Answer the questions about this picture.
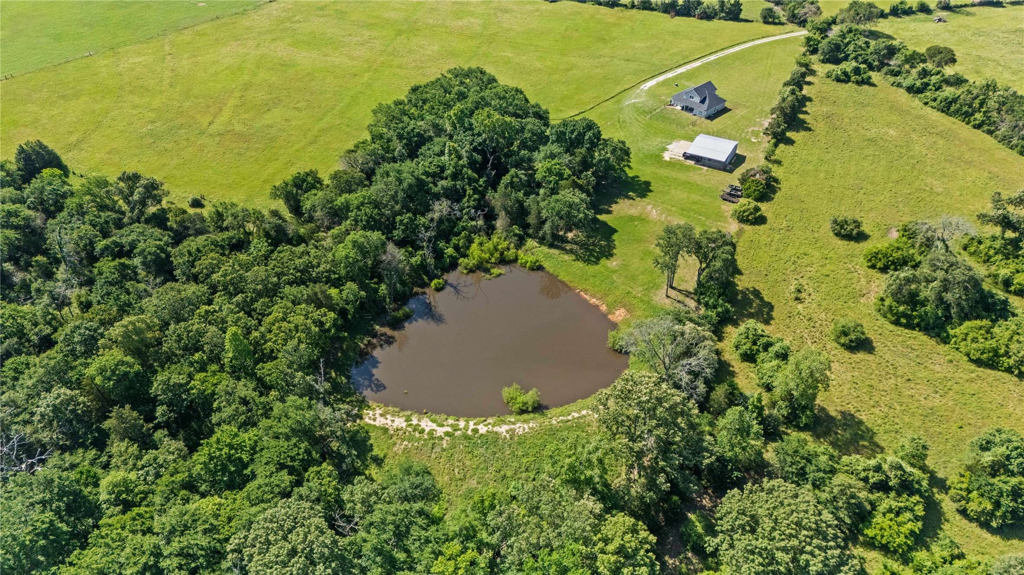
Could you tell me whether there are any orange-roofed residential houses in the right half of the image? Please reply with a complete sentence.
No, I see no orange-roofed residential house in the right half of the image.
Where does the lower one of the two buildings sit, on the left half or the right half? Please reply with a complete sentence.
You can find the lower one of the two buildings on the right side of the picture.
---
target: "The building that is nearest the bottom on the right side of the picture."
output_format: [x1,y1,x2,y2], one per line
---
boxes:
[685,133,738,170]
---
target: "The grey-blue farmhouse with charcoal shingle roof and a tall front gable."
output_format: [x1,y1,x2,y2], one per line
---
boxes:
[670,82,729,118]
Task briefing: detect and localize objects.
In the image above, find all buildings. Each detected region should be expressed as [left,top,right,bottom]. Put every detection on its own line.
[685,133,738,170]
[670,82,729,118]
